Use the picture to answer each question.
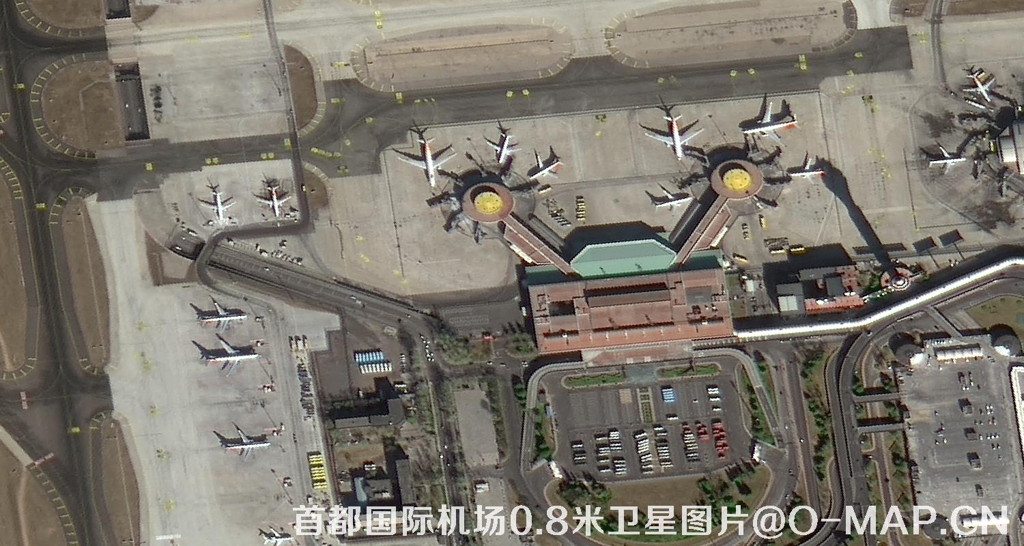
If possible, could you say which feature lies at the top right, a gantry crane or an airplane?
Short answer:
airplane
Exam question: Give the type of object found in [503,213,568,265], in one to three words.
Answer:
building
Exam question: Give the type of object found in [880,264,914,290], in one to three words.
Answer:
building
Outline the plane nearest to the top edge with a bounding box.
[963,71,998,102]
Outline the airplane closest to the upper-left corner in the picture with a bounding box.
[200,190,235,221]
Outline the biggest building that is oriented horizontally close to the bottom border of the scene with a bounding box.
[360,506,438,527]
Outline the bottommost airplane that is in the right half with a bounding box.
[655,190,692,215]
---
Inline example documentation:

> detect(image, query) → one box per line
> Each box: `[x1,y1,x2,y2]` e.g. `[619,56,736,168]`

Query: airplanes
[485,131,522,164]
[742,105,799,145]
[200,190,235,221]
[256,185,293,218]
[199,302,248,335]
[397,135,458,186]
[264,529,294,546]
[530,157,566,180]
[655,190,692,215]
[963,71,998,102]
[222,429,270,463]
[647,113,702,160]
[207,341,259,377]
[929,148,966,174]
[789,160,824,185]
